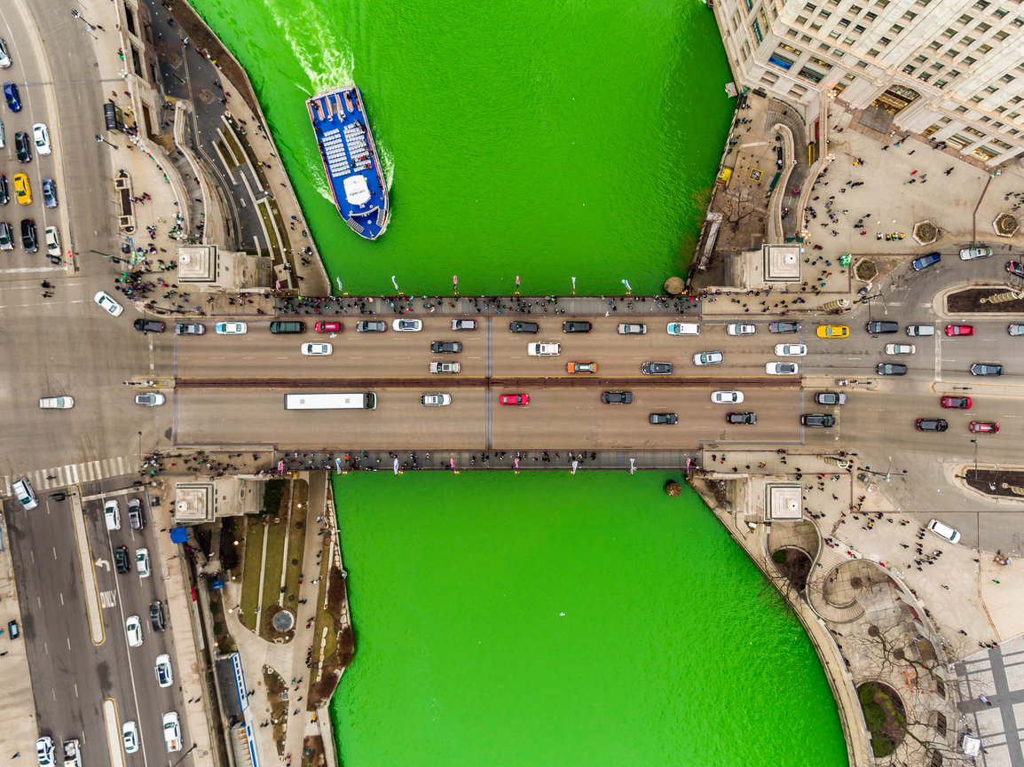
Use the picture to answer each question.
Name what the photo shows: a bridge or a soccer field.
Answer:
bridge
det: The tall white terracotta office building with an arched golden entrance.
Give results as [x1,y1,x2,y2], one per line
[722,0,1024,172]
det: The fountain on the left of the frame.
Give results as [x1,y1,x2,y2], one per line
[272,610,294,633]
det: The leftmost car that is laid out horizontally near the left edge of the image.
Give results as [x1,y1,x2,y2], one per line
[40,395,74,410]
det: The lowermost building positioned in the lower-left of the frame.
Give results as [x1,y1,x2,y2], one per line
[231,706,265,767]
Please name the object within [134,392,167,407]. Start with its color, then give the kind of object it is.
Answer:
gray car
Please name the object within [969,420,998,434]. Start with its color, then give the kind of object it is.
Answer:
red car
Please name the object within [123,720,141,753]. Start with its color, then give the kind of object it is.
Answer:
white car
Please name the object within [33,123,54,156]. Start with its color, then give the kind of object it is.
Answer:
white car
